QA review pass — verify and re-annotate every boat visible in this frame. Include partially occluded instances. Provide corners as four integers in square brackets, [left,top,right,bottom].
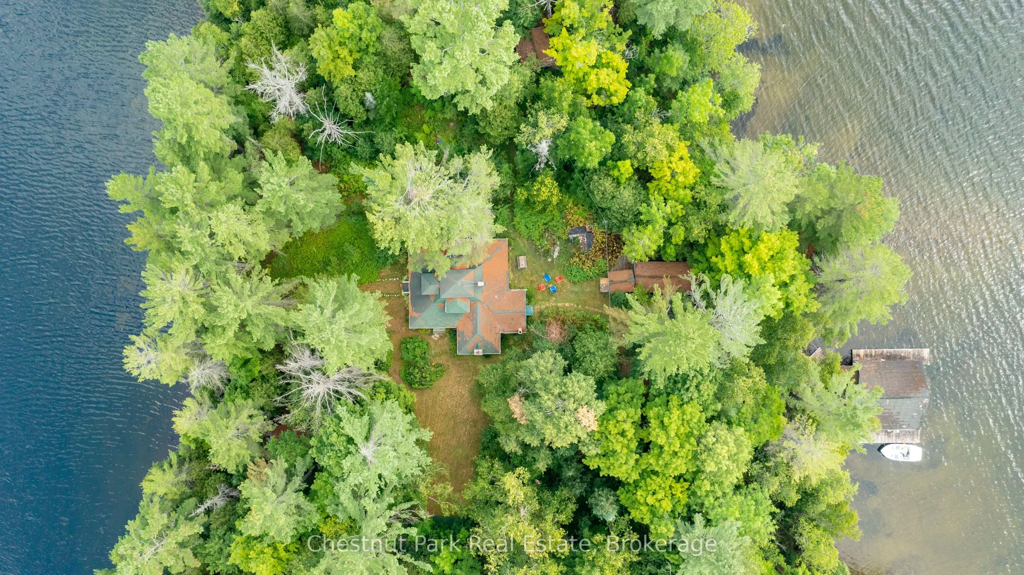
[882,445,926,463]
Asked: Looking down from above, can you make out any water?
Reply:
Yes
